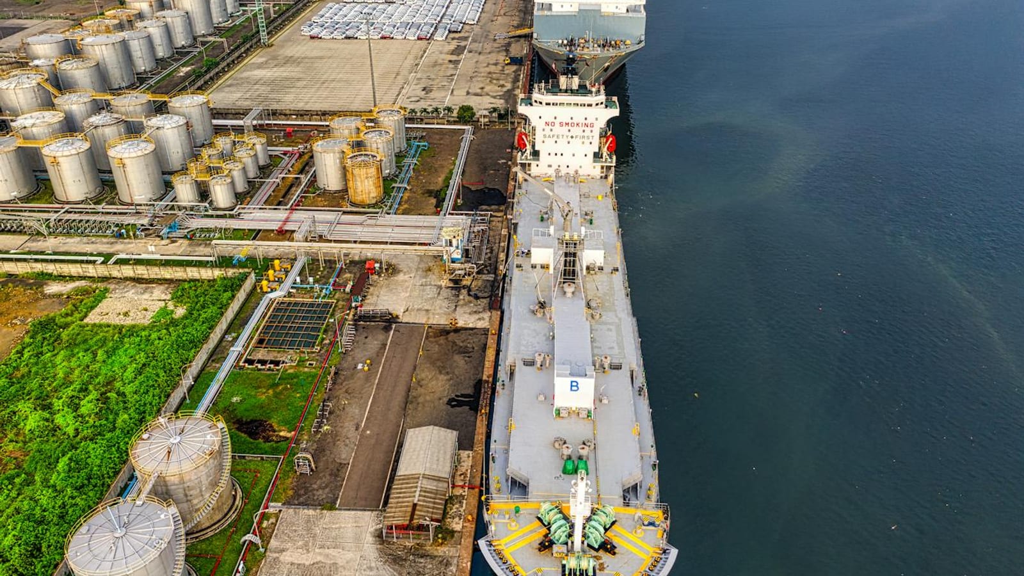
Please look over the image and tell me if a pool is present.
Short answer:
No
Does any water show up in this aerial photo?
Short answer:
Yes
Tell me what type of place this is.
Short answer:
industrial area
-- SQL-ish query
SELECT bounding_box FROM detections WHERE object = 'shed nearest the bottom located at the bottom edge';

[382,425,459,551]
